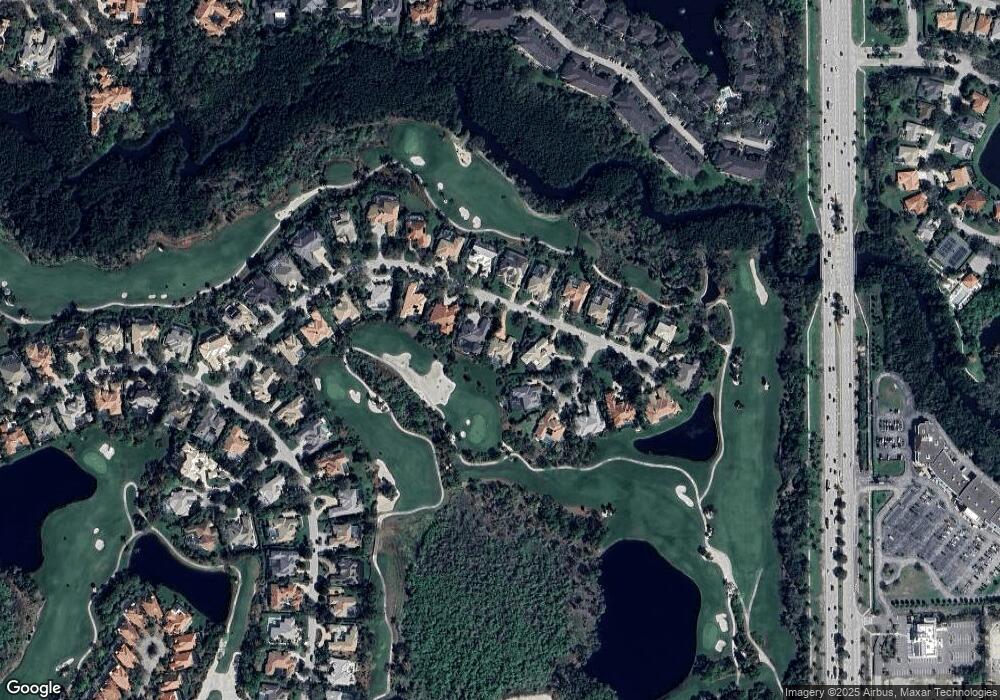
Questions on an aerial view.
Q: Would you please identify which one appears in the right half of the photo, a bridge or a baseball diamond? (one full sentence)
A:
What appears in the right half of the photo is a bridge.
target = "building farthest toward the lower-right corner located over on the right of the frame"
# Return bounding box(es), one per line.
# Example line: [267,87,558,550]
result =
[908,618,947,658]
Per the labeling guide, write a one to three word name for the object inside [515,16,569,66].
building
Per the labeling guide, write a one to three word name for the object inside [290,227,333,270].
house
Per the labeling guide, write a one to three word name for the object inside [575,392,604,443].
house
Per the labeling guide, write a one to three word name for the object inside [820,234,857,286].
bridge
